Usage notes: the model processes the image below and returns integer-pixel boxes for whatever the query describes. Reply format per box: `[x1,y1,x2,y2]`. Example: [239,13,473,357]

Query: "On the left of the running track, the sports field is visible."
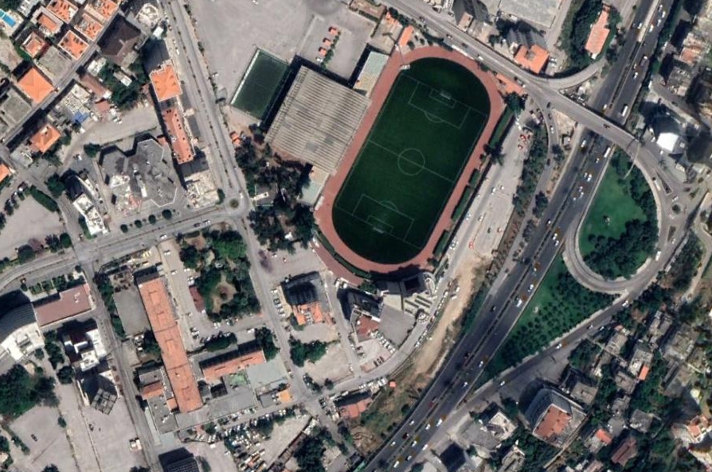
[227,47,289,121]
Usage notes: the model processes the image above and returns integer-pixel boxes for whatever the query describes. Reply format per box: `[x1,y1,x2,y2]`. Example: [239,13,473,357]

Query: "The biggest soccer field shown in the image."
[335,56,489,265]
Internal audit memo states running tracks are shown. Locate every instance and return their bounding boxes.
[322,45,498,275]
